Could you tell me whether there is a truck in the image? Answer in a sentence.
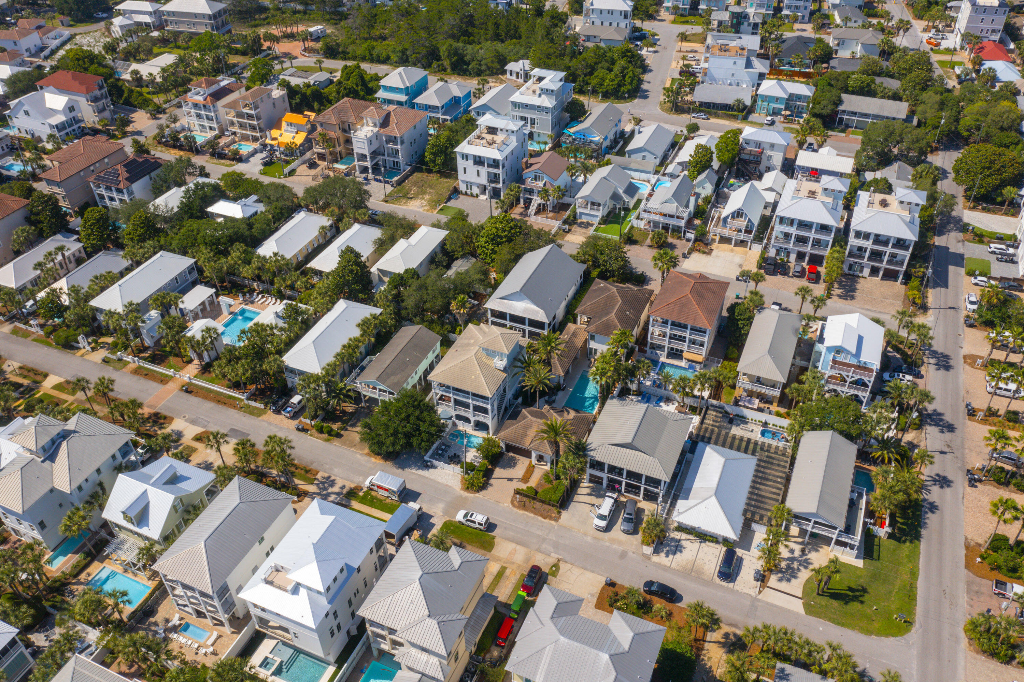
Yes, the photo shows a truck.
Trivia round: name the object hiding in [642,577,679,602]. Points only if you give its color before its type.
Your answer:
black car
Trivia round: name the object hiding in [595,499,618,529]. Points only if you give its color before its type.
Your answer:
white car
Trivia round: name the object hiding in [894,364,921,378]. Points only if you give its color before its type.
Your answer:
black car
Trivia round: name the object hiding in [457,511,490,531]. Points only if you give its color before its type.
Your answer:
white car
